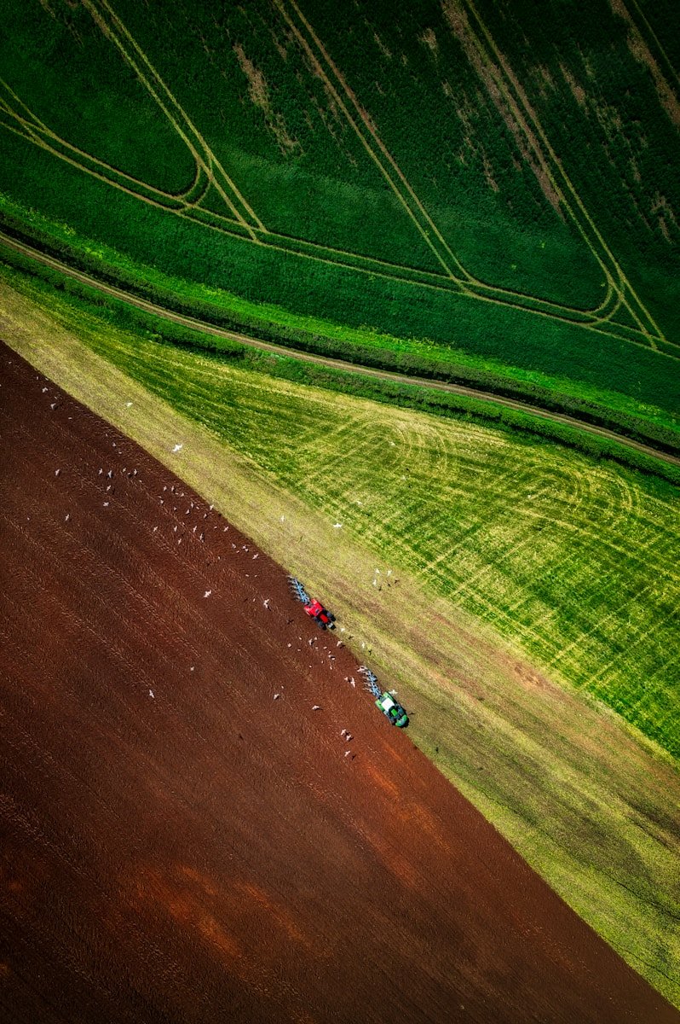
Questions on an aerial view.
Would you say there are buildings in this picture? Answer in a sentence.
No, the scene contains no building.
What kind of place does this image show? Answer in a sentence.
This looks like farmland.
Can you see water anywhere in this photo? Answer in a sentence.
No, there's no water in this view.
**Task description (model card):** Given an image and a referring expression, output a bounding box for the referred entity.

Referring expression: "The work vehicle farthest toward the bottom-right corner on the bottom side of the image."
[376,691,408,726]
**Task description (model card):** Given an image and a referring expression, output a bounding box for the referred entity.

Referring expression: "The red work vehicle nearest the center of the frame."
[304,598,334,629]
